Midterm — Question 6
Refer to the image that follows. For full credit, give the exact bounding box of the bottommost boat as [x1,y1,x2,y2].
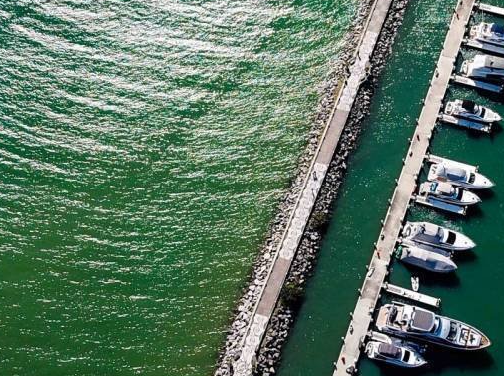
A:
[366,340,428,368]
